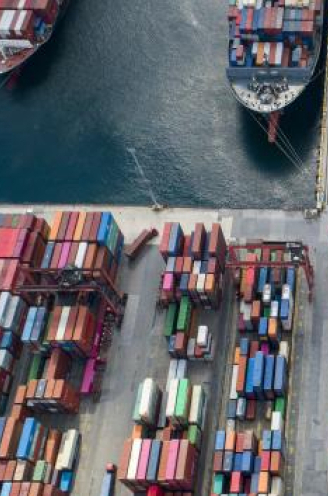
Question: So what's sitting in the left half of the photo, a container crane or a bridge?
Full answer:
The feature located in the left half of the photo is a container crane.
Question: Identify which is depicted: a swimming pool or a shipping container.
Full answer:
Looking from above, you can make out a shipping container.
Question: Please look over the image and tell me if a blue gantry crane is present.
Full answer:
No, the photo shows no blue gantry crane.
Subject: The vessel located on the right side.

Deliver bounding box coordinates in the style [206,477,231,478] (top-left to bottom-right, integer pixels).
[227,0,324,192]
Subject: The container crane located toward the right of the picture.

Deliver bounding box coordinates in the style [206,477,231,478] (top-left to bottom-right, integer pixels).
[223,241,317,299]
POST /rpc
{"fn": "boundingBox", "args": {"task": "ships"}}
[0,0,80,100]
[227,0,324,192]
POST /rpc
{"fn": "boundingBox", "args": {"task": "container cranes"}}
[5,263,129,321]
[223,241,317,299]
